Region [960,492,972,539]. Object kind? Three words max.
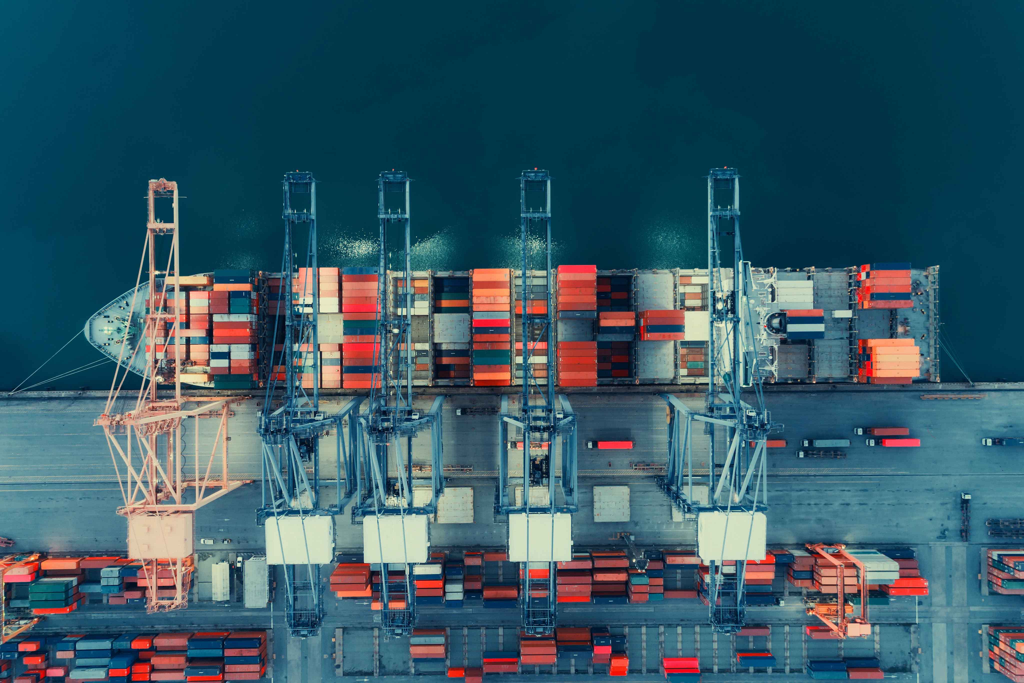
vehicle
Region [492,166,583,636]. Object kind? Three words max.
container crane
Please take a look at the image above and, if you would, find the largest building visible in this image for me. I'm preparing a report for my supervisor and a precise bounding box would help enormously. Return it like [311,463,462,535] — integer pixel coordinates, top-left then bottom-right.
[244,554,279,608]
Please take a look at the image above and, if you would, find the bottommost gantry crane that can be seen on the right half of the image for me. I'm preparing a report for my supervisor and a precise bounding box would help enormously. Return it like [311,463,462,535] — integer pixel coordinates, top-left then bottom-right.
[809,544,874,637]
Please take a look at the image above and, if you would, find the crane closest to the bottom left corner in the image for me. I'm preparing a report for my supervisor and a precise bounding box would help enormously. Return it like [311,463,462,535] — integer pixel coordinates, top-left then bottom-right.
[0,551,48,643]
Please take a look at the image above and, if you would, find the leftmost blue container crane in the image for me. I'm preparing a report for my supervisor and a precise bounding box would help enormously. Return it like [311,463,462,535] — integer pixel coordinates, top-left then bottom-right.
[255,168,373,638]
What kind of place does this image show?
port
